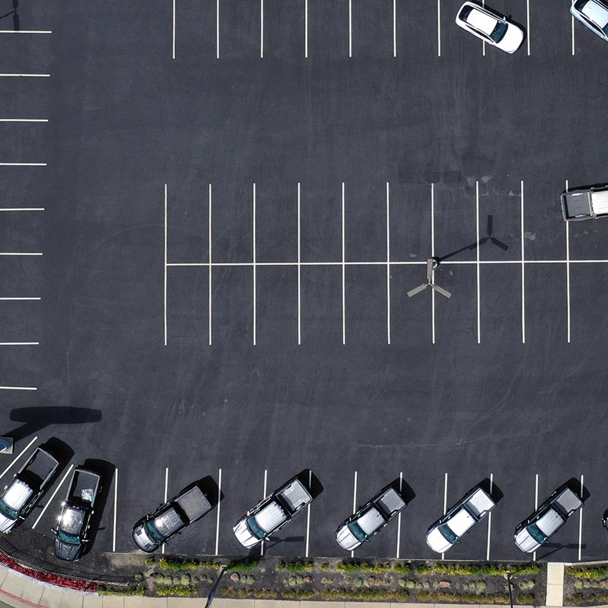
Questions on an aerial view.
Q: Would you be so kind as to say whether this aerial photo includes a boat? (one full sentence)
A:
No, no boat is visible in the view.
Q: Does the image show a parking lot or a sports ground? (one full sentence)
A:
The picture captures a parking lot.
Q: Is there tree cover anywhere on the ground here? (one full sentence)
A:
No, there's no tree cover in this view.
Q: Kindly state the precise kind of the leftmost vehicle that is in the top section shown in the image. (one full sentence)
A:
The leftmost vehicle that is in the top section appears to be an automobile.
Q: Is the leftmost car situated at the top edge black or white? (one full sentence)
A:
The leftmost car situated at the top edge looks white in the image.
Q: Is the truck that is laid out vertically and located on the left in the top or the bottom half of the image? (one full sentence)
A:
The bottom half of the photo is where the truck that is laid out vertically and located on the left is.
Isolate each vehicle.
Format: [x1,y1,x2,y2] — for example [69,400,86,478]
[337,483,409,550]
[455,1,524,54]
[512,483,587,552]
[569,0,608,45]
[136,482,215,551]
[0,444,63,532]
[425,484,499,553]
[49,464,104,560]
[235,475,315,546]
[562,187,608,222]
